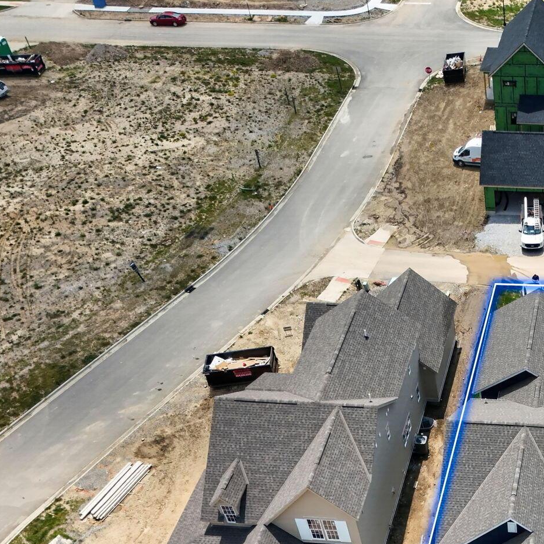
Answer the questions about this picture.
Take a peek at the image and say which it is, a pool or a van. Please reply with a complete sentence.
Visible in the photo is a van.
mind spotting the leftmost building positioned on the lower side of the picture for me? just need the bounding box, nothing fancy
[168,267,458,544]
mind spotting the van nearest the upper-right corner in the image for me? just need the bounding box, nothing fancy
[451,135,482,166]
